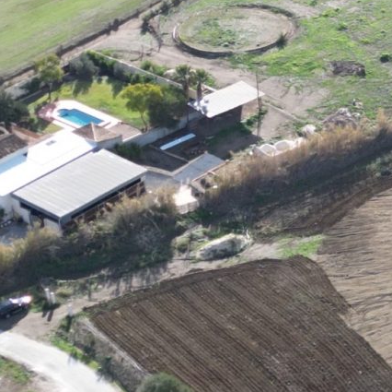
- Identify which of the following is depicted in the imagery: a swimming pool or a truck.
swimming pool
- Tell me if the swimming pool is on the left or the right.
left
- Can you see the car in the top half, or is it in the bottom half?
bottom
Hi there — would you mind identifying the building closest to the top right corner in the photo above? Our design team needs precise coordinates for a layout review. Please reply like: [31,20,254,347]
[181,77,271,141]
